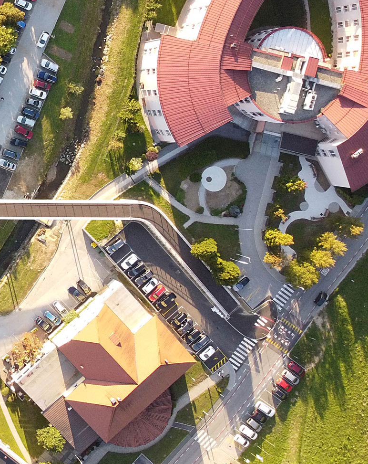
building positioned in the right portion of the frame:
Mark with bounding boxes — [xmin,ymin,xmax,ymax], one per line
[137,0,368,192]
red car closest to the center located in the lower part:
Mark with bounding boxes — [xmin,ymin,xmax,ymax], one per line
[148,284,167,301]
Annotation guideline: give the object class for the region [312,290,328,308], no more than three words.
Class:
car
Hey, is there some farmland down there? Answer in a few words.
No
